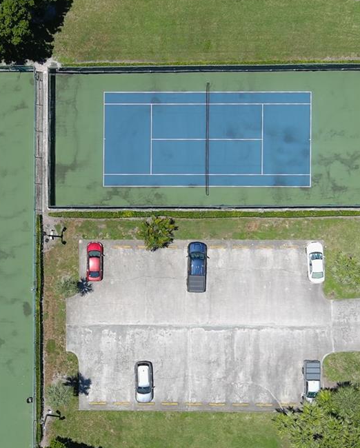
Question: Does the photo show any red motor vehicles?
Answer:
Yes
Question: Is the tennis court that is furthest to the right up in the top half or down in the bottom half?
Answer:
top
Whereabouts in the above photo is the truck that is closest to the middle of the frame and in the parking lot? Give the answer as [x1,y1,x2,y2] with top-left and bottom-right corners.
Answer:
[188,242,209,293]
